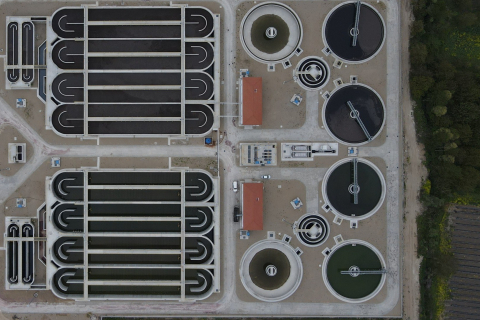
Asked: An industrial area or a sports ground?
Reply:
industrial area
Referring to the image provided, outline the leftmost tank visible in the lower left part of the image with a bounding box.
[0,203,47,289]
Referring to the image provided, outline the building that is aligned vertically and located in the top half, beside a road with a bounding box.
[241,77,262,125]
